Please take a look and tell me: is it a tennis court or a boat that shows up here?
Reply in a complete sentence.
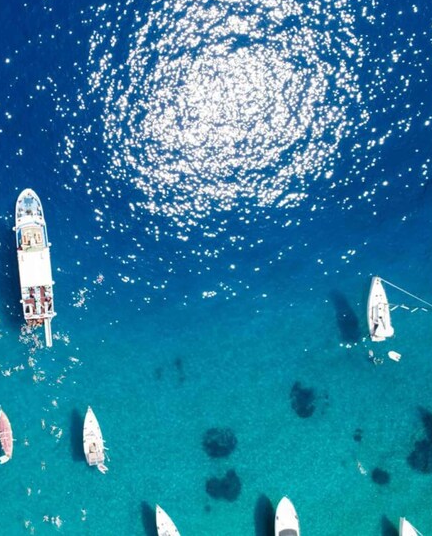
There is a boat in the scene.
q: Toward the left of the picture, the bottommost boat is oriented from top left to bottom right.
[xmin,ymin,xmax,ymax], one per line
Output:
[155,503,180,536]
